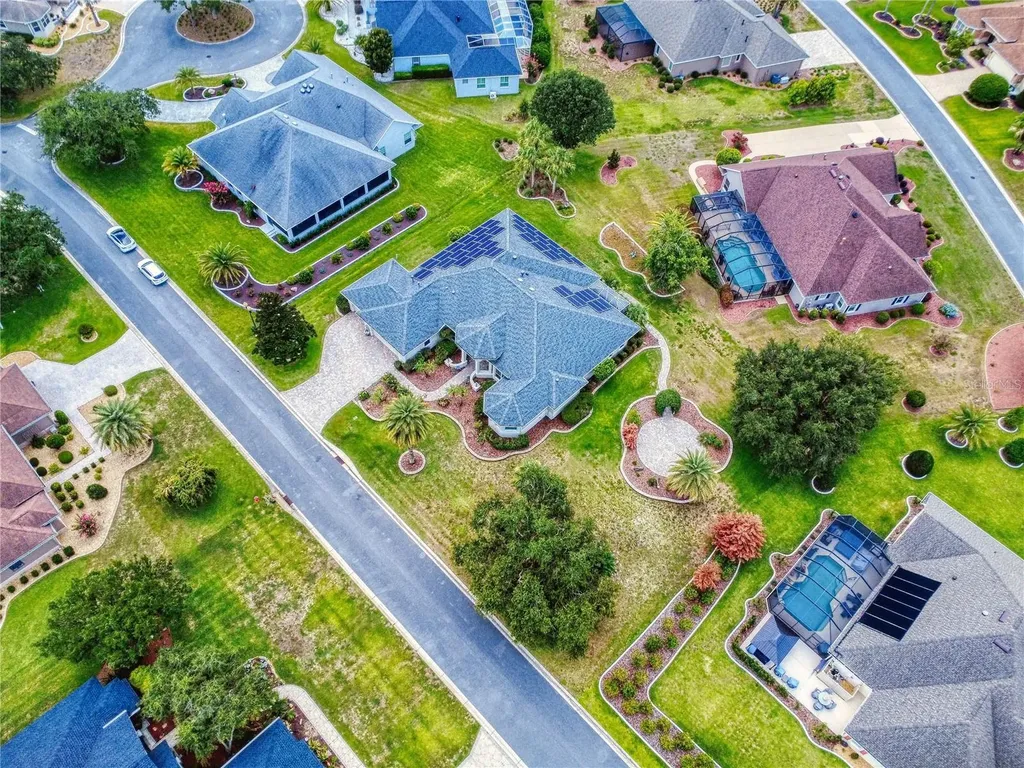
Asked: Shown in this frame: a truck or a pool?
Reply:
pool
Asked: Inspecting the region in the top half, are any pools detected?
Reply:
Yes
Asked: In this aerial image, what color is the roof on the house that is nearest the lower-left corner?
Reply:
blue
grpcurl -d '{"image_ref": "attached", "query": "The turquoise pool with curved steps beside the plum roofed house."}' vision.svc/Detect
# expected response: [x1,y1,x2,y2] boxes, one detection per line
[715,234,769,293]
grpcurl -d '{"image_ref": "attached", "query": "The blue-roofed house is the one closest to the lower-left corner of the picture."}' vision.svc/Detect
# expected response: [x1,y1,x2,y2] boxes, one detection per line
[0,676,189,768]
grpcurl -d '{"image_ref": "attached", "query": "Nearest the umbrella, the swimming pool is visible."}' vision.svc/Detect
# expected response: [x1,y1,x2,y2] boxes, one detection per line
[780,552,848,633]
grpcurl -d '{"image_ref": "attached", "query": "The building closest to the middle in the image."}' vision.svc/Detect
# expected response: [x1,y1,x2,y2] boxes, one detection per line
[339,208,641,436]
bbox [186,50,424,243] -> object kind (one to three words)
house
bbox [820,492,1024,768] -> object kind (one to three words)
house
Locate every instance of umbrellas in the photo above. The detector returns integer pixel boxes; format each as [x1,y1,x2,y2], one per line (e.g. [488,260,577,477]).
[751,614,800,668]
